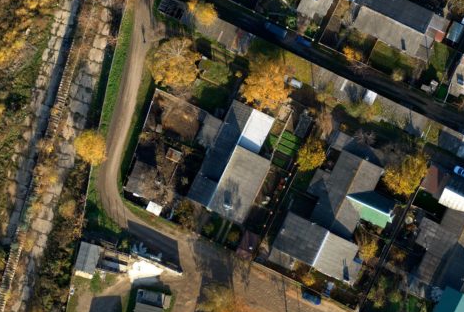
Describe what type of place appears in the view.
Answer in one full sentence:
What you see here is a residential area.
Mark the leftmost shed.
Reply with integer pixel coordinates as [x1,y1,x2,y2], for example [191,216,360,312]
[75,241,104,274]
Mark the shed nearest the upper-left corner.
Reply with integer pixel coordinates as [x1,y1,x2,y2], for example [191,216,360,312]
[158,0,186,19]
